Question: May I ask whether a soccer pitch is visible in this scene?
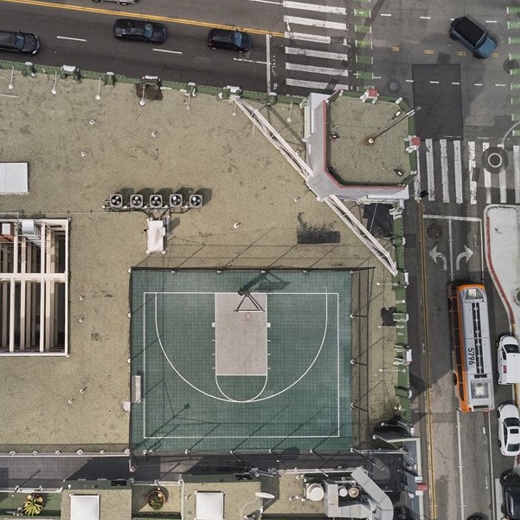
No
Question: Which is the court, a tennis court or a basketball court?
basketball court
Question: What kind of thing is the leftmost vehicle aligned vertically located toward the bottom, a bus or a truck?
bus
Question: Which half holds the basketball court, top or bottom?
bottom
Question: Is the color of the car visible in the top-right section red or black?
black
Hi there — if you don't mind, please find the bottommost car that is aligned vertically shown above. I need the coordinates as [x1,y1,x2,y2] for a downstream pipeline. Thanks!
[497,469,520,520]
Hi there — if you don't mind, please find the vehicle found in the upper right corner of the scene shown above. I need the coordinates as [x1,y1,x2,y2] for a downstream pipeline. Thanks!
[450,16,494,58]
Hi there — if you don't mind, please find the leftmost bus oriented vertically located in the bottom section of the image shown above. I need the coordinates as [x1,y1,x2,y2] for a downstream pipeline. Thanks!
[447,280,495,412]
